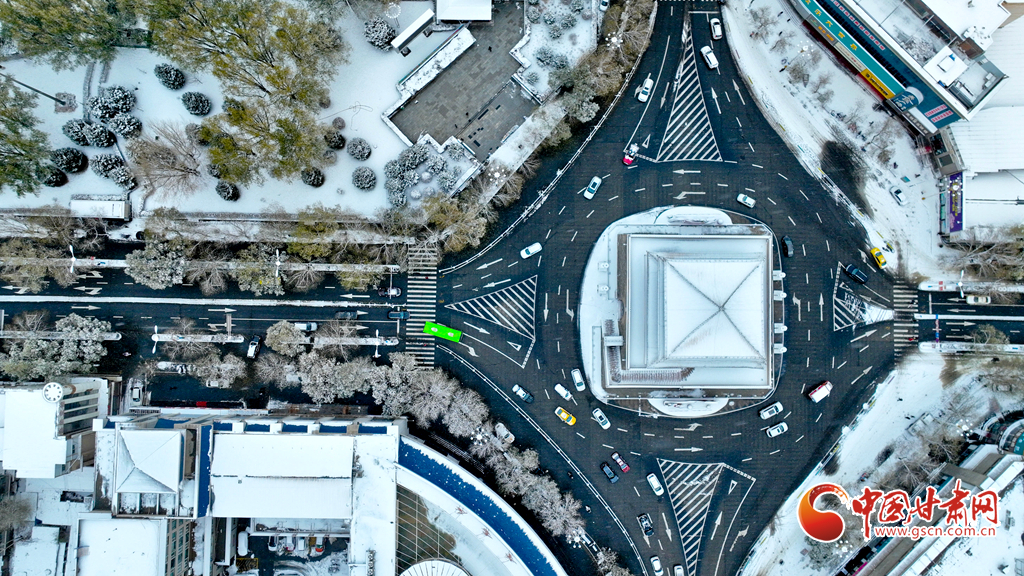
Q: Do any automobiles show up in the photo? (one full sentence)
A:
Yes, the image includes an automobile.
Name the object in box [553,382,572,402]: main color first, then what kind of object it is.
white car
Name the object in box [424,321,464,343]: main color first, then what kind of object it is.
green bus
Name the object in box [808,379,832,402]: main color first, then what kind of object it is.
white vehicle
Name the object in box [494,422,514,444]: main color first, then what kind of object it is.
white vehicle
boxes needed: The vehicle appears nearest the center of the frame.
[520,241,542,259]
